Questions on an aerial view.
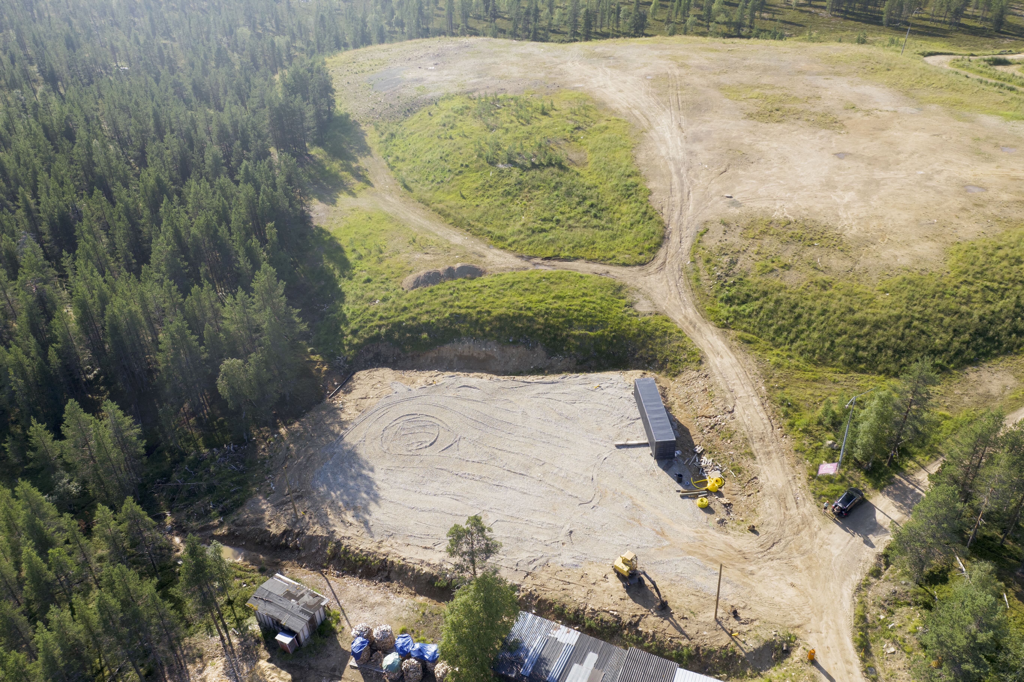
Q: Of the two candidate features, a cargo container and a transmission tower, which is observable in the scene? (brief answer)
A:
cargo container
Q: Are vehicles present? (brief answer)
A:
Yes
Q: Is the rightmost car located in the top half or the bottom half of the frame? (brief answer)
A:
bottom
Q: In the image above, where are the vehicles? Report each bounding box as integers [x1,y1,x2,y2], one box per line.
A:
[612,549,670,605]
[827,488,865,521]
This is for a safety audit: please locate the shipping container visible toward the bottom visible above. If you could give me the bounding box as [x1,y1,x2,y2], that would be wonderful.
[634,377,677,458]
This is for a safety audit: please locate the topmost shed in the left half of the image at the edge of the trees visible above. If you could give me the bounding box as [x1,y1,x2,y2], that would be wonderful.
[244,575,330,645]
